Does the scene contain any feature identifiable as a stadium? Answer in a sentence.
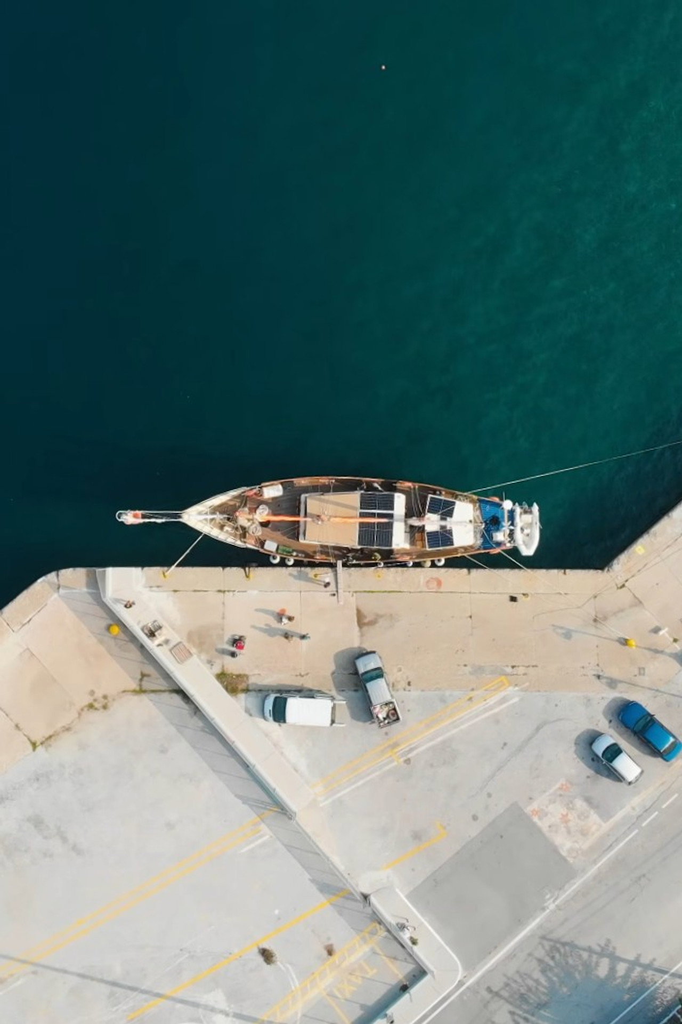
No, I can see no stadium in this picture.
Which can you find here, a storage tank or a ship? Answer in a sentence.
The one in the frame is a ship.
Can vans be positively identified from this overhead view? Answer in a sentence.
Yes, you can see a van in this photo.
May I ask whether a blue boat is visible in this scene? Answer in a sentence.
No, there's no blue boat here.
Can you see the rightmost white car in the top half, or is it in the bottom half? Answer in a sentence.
The rightmost white car is in the bottom half of the image.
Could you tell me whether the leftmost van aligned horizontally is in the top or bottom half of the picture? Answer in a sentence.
Seen from above, the leftmost van aligned horizontally lies in the bottom half of the view.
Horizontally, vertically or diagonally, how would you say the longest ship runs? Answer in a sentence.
Seen from above, the longest ship lies horizontally.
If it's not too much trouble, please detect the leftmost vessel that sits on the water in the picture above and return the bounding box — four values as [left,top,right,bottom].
[116,475,521,568]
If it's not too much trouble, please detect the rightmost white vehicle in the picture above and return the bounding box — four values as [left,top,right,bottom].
[590,731,644,785]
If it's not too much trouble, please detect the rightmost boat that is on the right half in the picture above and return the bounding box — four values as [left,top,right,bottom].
[514,501,541,556]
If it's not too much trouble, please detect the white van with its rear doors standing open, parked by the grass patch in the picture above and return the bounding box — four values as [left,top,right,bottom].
[263,690,347,727]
